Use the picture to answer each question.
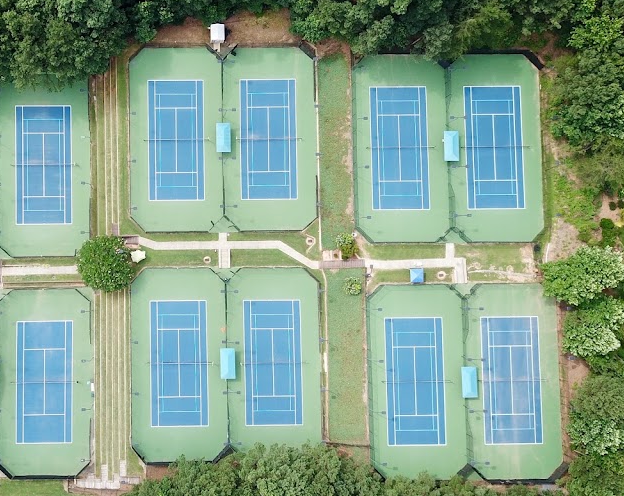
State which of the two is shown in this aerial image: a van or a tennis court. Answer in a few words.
tennis court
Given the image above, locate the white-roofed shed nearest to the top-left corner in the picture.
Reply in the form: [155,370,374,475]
[210,23,225,46]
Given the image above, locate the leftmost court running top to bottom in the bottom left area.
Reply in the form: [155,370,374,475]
[0,289,91,476]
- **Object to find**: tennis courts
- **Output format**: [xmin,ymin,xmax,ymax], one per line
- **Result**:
[129,48,240,232]
[0,70,90,256]
[0,289,91,476]
[226,267,323,461]
[367,285,483,479]
[447,53,545,241]
[353,54,465,242]
[464,284,563,477]
[222,47,318,231]
[131,267,241,464]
